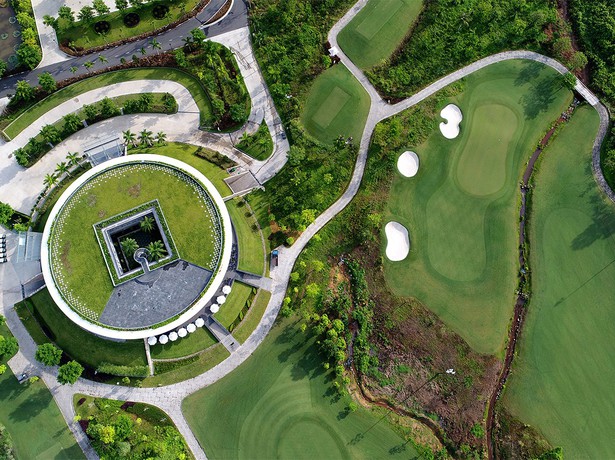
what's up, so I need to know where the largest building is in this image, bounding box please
[41,153,232,337]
